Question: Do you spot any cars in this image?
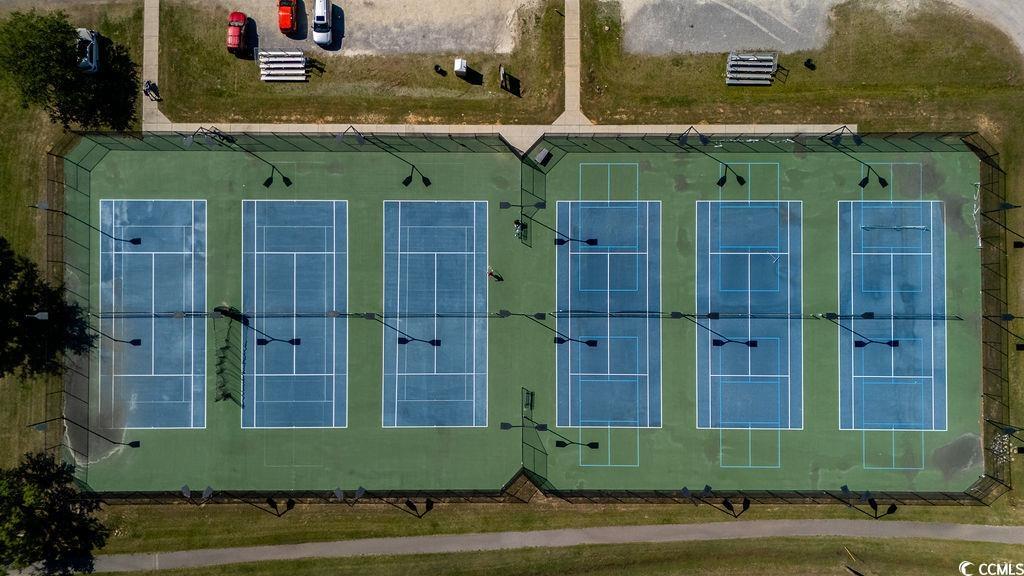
Yes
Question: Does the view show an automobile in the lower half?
No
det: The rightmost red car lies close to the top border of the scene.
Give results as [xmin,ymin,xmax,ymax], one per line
[276,0,299,34]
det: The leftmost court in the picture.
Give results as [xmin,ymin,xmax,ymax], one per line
[99,200,207,429]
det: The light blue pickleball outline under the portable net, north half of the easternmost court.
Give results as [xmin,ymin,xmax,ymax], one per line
[862,163,923,292]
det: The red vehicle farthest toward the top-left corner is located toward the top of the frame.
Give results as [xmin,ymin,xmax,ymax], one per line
[225,12,248,53]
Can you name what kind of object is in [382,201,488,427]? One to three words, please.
tennis court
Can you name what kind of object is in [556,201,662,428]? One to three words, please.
tennis court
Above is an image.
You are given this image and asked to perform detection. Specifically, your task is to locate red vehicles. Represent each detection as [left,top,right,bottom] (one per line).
[276,0,299,34]
[225,12,248,53]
